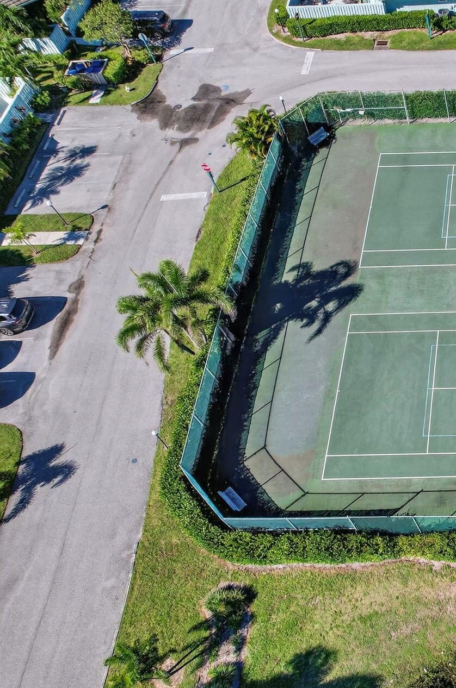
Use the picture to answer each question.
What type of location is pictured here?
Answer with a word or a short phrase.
sports ground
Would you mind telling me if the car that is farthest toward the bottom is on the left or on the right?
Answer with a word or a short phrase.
left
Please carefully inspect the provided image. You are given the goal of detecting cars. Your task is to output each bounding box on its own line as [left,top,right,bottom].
[125,14,176,46]
[0,295,40,334]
